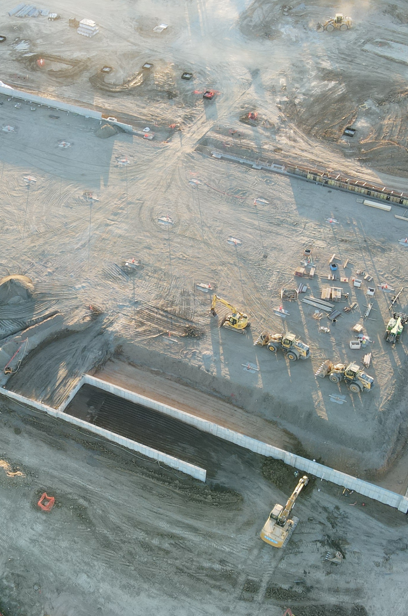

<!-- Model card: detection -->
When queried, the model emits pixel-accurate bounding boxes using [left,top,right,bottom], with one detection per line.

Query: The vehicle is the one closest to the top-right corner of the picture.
[315,14,359,31]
